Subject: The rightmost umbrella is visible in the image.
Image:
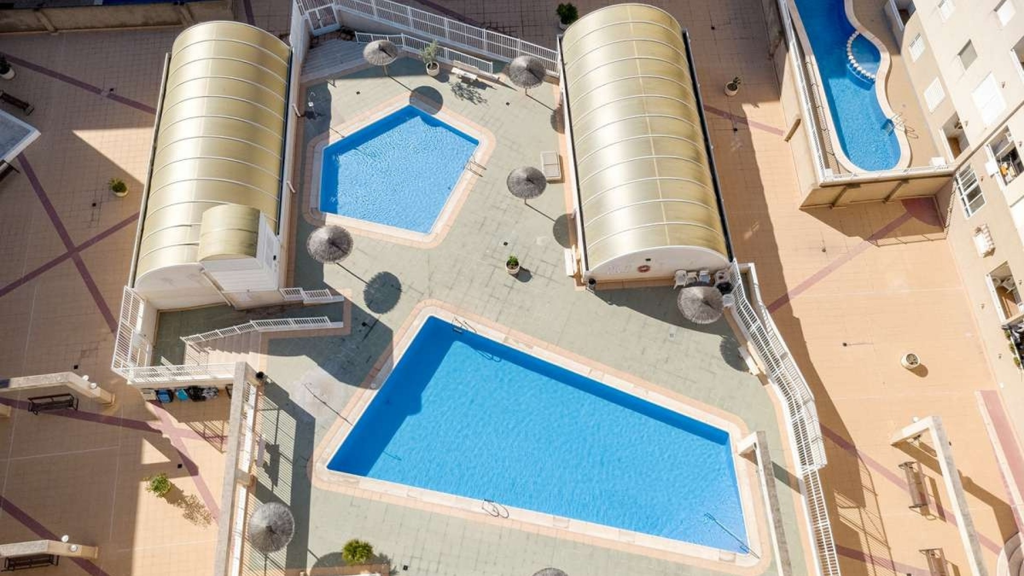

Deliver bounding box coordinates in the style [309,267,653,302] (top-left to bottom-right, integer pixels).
[677,282,725,326]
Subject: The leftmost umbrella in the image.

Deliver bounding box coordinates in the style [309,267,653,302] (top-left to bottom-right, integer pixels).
[247,501,302,559]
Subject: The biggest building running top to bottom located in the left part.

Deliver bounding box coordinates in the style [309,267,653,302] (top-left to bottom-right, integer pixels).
[126,18,308,409]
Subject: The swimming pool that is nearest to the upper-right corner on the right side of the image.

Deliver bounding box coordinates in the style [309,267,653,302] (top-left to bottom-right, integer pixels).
[796,0,898,170]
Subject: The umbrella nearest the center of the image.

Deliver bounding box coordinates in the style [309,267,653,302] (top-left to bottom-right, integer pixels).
[508,169,548,204]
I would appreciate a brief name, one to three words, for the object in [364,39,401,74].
umbrella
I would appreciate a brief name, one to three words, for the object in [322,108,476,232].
swimming pool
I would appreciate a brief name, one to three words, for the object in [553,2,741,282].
building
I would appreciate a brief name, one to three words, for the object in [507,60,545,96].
umbrella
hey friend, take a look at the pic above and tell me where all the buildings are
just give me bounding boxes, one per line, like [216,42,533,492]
[553,2,741,282]
[126,18,308,409]
[897,0,1024,518]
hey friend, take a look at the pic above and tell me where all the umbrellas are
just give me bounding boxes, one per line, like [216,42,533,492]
[311,227,359,269]
[508,169,548,204]
[507,60,545,96]
[364,39,401,74]
[528,565,569,576]
[247,501,302,559]
[677,282,725,326]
